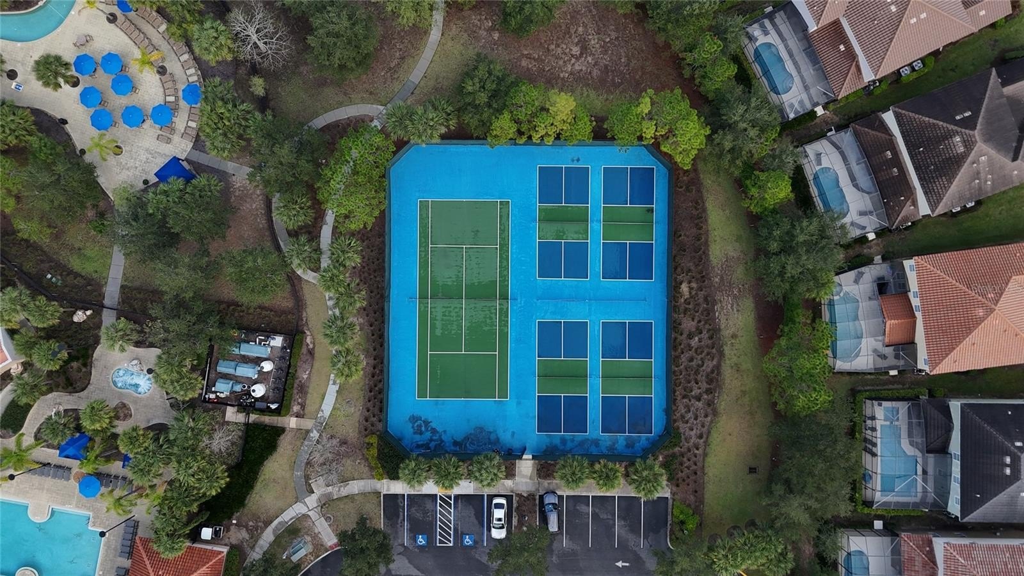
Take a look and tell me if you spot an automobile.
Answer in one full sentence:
Yes, the frame does contain an automobile.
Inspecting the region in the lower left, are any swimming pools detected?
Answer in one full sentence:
Yes, a swimming pool can be seen in the lower left.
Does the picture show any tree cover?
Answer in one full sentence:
Yes, tree cover shows up in the scene.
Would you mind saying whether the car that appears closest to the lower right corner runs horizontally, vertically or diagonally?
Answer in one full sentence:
The car that appears closest to the lower right corner has been laid out vertically relative to the frame.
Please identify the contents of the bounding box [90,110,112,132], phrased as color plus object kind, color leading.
blue umbrella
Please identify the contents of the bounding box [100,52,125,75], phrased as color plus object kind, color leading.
blue umbrella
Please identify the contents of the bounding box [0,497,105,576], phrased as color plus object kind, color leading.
blue swimming pool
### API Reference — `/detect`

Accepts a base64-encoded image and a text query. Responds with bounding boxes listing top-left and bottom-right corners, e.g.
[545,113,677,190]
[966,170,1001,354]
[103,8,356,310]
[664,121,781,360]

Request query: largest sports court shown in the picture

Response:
[387,145,668,456]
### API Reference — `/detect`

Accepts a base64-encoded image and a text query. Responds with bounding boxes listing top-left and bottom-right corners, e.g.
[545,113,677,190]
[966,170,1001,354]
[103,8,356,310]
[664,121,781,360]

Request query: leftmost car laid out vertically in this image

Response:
[489,498,508,540]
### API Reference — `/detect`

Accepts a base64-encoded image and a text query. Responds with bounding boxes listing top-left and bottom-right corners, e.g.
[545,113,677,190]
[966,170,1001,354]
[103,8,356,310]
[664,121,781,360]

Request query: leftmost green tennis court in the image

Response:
[416,200,510,400]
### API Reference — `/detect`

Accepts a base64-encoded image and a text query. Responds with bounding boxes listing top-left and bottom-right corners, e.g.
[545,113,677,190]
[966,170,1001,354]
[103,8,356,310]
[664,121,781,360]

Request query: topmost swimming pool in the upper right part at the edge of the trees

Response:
[755,40,796,97]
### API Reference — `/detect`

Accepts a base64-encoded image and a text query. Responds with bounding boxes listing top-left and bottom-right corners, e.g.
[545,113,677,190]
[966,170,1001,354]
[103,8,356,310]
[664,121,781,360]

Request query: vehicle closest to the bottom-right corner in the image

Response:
[541,493,561,535]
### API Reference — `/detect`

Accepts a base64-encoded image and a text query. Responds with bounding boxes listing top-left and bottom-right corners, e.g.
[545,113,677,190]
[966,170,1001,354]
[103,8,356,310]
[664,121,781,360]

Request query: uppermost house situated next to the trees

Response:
[795,0,1012,101]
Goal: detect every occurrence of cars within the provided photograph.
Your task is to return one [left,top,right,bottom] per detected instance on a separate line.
[489,498,508,540]
[541,493,561,535]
